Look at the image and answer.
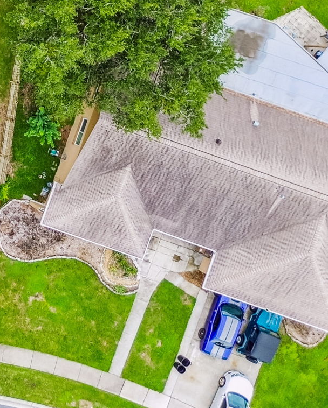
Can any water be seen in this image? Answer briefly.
No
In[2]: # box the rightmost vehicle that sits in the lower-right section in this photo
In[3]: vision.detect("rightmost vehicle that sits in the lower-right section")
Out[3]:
[238,306,288,369]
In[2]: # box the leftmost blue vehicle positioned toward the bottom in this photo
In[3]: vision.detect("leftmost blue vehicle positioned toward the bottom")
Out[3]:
[202,293,251,364]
